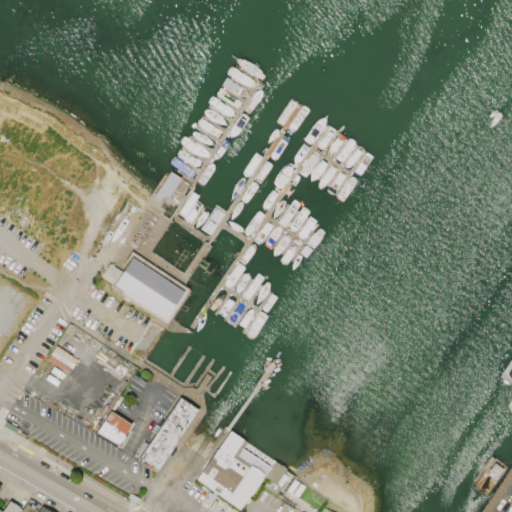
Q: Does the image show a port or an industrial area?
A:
port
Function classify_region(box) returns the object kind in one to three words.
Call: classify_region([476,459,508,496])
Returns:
ship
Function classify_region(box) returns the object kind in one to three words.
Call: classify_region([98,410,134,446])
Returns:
building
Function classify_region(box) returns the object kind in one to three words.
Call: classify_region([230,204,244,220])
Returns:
boat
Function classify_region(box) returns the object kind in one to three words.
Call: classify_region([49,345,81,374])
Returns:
barn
